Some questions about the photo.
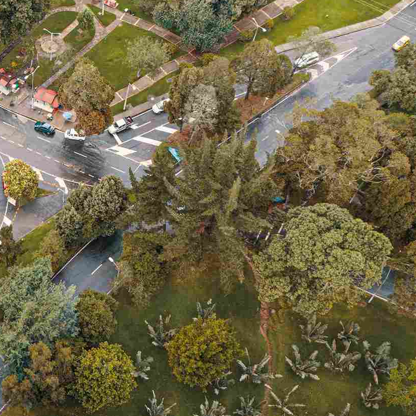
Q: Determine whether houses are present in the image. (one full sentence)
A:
No, I find no house anywhere in the image.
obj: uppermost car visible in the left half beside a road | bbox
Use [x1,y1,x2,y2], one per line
[151,97,171,113]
